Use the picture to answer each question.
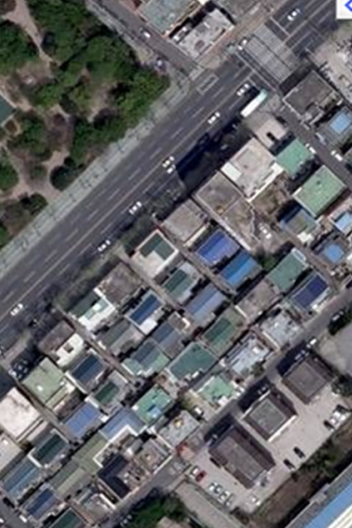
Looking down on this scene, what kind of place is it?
residential area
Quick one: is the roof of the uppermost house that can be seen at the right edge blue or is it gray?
gray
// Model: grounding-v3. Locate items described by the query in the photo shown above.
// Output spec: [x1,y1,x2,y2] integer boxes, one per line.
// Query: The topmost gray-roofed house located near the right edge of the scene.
[281,72,344,127]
